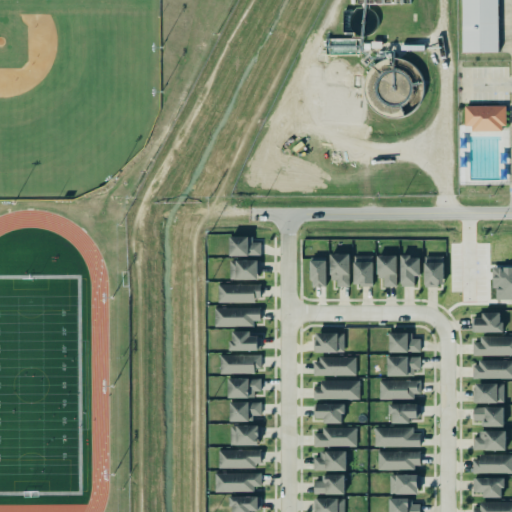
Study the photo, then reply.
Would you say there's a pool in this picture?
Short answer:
Yes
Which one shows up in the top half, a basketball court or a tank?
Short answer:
tank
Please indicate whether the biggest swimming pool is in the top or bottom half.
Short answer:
top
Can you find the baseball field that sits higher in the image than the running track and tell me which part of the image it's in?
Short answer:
top left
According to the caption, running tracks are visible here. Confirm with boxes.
[0,210,110,512]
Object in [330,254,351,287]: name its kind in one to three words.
house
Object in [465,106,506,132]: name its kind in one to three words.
building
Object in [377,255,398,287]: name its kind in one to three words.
house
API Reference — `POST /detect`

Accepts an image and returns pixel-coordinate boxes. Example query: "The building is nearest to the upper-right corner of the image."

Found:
[462,0,500,52]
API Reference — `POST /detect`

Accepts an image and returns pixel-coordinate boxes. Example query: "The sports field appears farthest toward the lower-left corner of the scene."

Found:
[0,227,92,504]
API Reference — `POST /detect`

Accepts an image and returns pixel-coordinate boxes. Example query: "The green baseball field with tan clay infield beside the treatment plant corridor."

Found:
[0,0,160,198]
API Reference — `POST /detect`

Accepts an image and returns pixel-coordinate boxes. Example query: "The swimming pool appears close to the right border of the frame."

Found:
[460,126,510,185]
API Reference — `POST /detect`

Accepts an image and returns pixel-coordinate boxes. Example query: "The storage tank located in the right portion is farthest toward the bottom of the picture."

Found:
[366,58,425,117]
